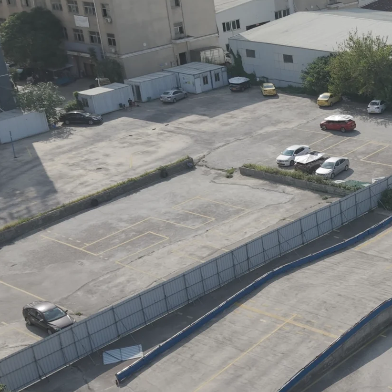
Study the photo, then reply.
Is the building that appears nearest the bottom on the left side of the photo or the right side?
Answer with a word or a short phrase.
left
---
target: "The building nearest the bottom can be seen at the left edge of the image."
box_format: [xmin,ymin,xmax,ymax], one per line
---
[0,105,52,144]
